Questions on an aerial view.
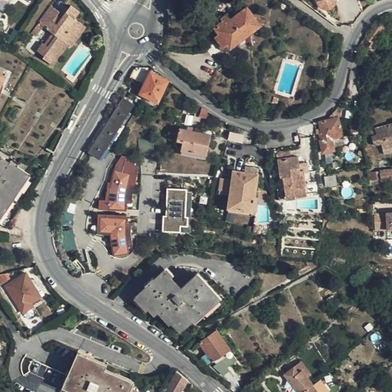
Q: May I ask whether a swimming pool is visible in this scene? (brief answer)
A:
Yes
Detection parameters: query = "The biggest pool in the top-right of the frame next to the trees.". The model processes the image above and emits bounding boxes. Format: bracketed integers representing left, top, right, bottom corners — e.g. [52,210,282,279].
[275,59,304,97]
